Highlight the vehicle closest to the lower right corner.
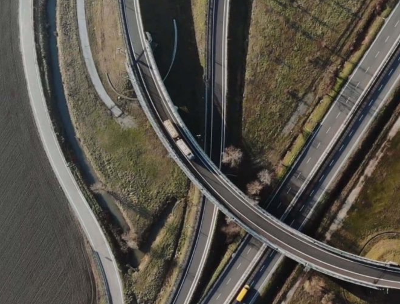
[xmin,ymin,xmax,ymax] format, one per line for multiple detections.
[237,286,250,303]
